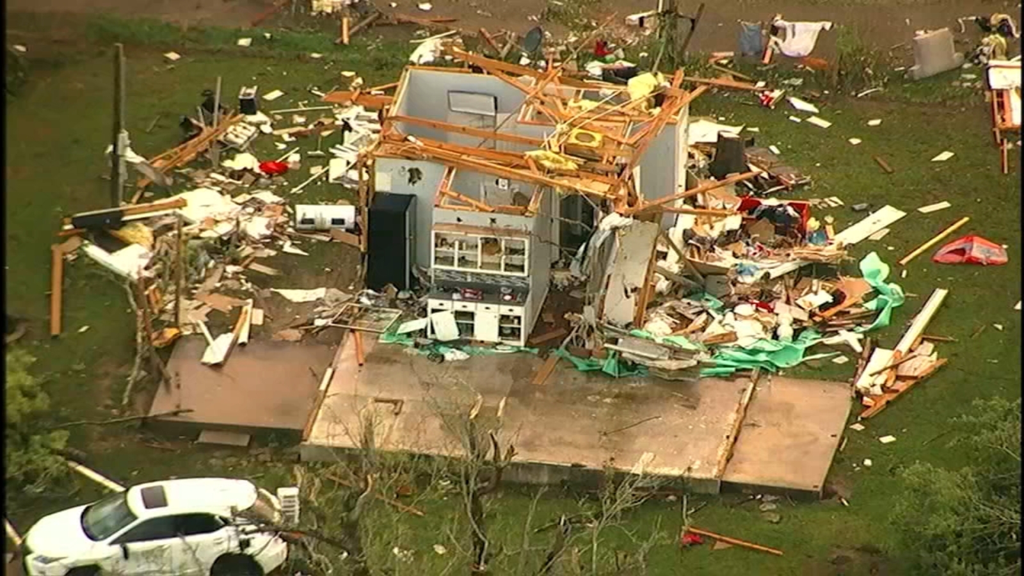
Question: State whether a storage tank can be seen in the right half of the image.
No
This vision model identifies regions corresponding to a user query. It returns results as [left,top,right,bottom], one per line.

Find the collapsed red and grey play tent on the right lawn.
[933,233,1009,265]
